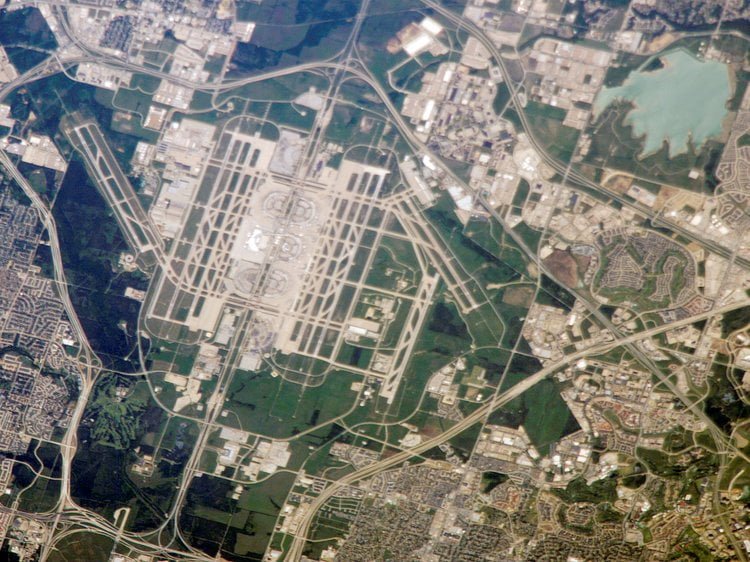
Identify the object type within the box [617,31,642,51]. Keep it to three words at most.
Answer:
building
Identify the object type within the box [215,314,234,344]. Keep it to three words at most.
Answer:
hangar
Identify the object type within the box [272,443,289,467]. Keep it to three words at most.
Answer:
building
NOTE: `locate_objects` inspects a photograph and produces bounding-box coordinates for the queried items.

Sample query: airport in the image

[74,122,488,404]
